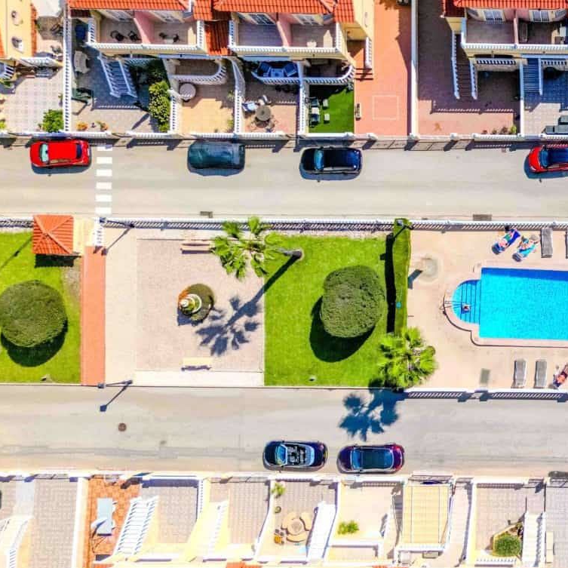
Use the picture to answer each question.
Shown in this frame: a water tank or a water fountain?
water fountain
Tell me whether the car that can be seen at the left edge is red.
Yes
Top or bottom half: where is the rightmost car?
top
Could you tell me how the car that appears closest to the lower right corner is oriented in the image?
from side to side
